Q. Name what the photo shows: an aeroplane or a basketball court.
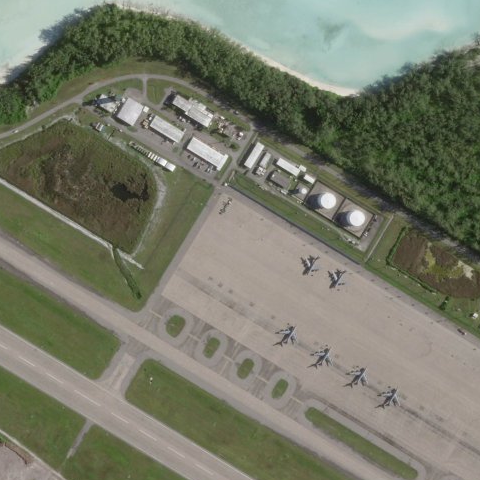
aeroplane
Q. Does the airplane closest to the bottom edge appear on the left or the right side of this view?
right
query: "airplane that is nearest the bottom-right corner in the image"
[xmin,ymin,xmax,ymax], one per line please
[378,388,399,410]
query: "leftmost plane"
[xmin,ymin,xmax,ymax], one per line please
[275,326,296,348]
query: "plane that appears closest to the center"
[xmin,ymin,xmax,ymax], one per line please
[303,254,324,275]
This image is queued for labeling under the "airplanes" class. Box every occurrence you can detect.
[330,267,351,288]
[303,254,324,275]
[378,388,399,410]
[347,368,368,390]
[275,326,296,348]
[311,348,331,370]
